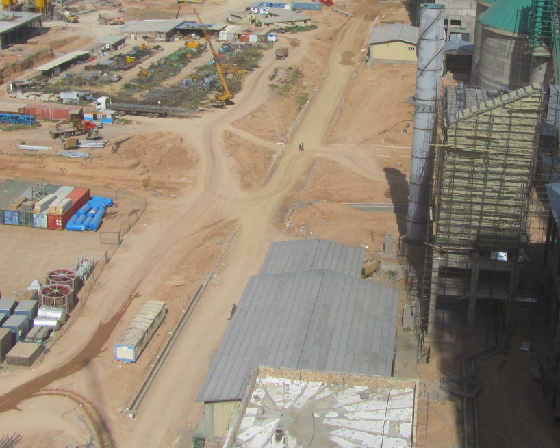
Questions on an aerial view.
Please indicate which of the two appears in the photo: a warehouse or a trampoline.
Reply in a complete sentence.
It is a warehouse that can be seen here.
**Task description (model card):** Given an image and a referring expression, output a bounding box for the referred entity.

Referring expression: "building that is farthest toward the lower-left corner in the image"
[115,303,159,359]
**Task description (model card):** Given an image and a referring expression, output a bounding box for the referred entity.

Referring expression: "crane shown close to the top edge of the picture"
[173,0,238,107]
